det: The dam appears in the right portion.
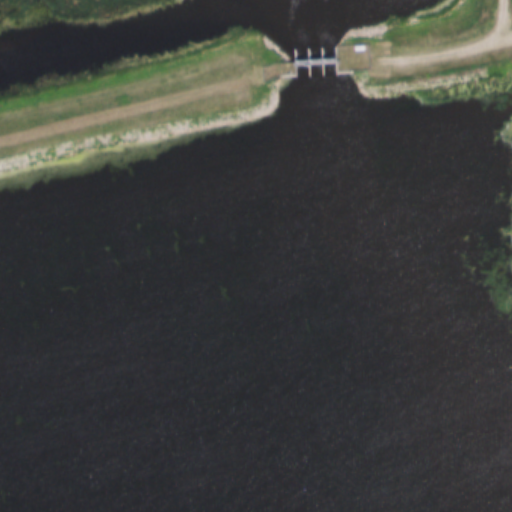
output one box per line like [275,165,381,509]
[282,46,355,79]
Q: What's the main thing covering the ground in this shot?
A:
water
